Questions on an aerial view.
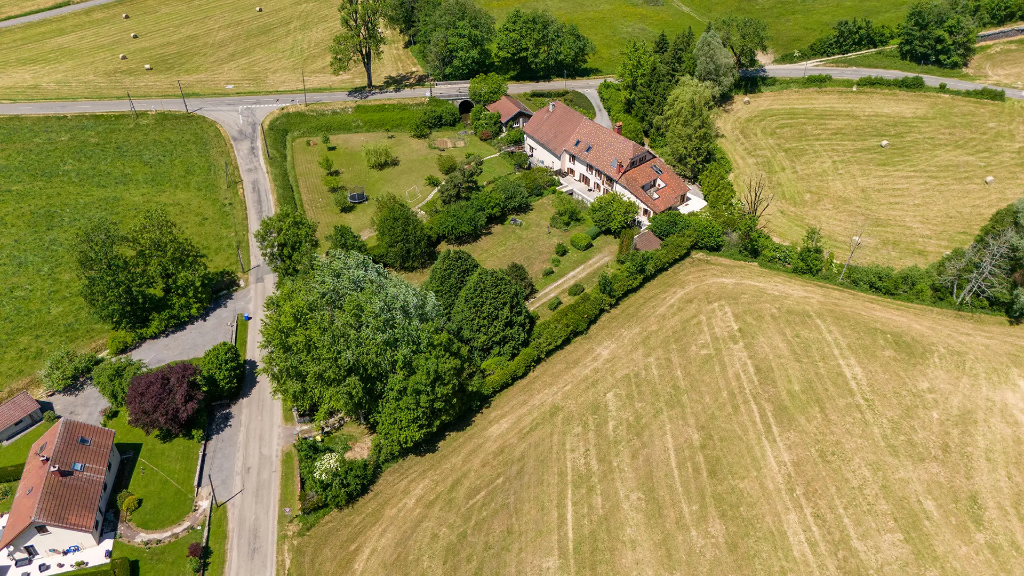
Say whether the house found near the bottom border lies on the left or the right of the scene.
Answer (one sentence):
It is on the left.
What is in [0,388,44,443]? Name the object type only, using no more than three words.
building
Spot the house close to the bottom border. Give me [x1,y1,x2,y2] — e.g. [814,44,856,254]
[0,416,119,558]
